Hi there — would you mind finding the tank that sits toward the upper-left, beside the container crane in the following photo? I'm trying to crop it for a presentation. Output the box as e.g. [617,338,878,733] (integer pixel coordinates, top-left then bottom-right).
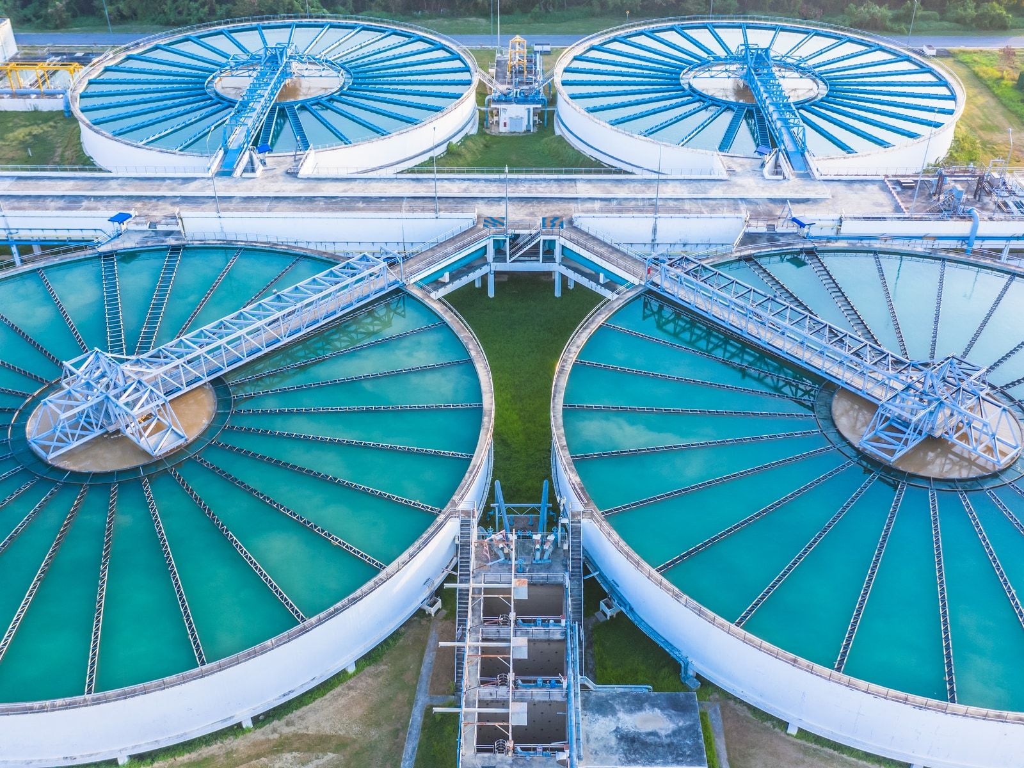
[71,11,483,173]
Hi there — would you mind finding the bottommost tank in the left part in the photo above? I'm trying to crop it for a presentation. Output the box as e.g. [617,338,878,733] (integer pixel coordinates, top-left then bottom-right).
[0,228,496,768]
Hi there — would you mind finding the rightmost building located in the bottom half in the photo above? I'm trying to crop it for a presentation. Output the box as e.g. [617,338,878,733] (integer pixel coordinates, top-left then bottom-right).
[578,692,706,768]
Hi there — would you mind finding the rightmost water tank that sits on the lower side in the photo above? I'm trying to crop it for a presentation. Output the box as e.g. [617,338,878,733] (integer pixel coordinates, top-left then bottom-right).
[548,235,1024,768]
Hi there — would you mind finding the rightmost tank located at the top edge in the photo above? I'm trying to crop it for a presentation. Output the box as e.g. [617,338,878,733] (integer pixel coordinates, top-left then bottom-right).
[553,15,969,180]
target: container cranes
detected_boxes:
[0,58,87,88]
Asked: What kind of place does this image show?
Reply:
industrial area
